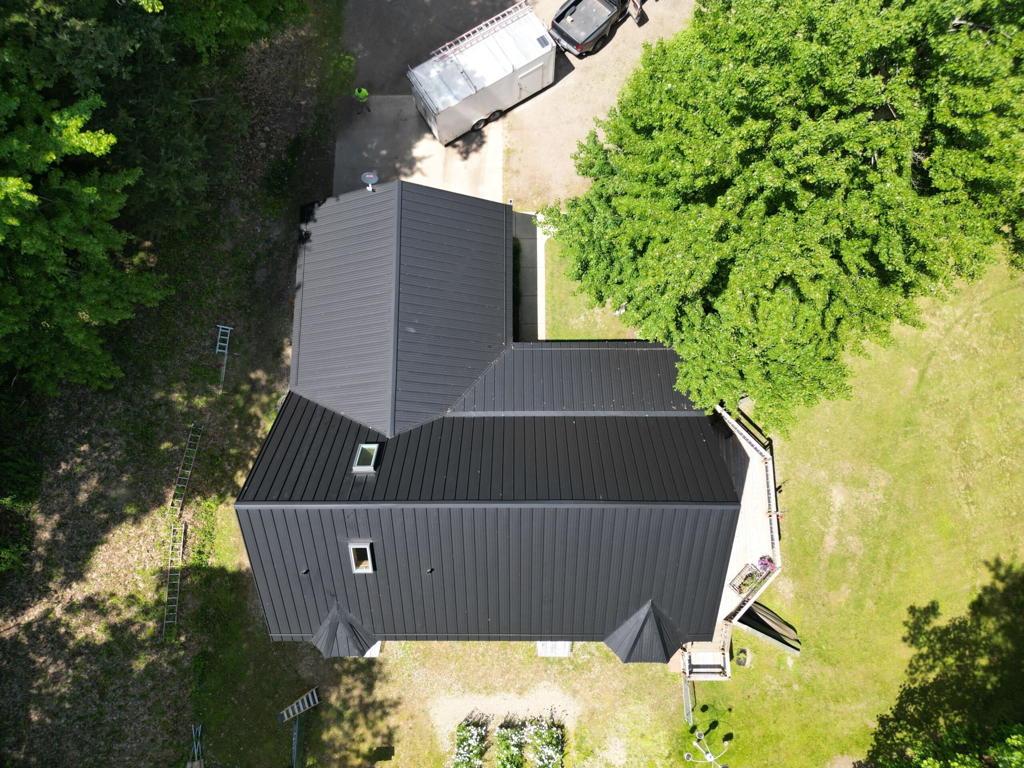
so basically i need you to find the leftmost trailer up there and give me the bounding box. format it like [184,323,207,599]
[406,7,560,144]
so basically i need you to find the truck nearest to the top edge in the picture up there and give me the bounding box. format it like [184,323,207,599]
[549,0,644,58]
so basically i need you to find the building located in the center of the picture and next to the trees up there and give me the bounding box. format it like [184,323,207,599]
[234,179,742,664]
